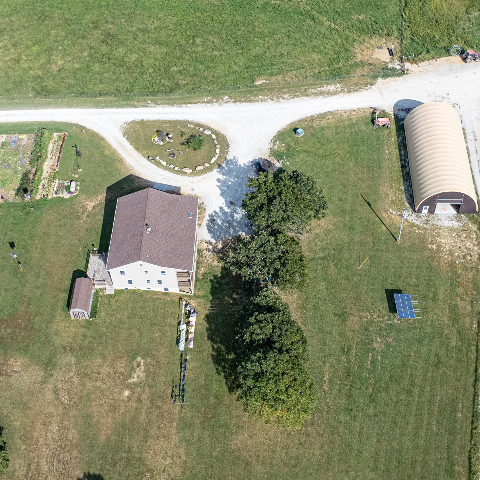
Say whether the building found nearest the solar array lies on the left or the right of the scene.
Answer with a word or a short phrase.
right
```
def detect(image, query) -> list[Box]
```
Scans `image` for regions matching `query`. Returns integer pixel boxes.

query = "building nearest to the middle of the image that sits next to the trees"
[86,186,198,294]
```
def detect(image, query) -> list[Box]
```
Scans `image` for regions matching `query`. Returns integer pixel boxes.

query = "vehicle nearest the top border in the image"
[463,47,480,63]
